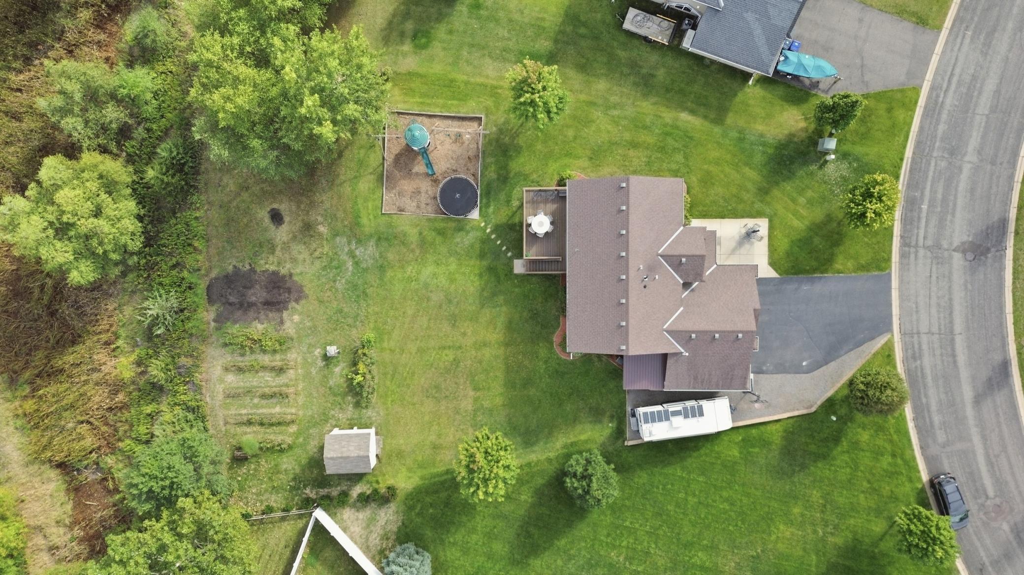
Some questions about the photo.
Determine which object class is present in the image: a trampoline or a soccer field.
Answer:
trampoline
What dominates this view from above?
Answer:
grass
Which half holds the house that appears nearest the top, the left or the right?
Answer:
right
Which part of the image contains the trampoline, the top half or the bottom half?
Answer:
top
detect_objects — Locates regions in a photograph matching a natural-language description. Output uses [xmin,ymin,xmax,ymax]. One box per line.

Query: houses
[566,175,761,392]
[629,0,802,84]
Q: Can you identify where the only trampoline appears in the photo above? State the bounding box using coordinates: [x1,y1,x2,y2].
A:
[438,176,479,216]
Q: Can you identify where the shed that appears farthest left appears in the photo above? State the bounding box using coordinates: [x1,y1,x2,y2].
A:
[323,424,385,474]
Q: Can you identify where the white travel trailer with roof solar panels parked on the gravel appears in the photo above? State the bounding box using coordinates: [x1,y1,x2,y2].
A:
[627,392,733,442]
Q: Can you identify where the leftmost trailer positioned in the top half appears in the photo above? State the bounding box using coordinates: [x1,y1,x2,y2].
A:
[616,7,679,44]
